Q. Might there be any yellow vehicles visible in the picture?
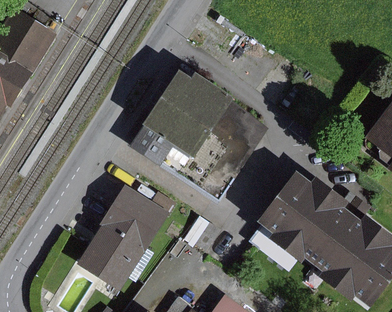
Yes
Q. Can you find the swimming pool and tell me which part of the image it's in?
bottom left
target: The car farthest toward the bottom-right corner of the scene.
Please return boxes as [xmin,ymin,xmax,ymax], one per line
[333,172,357,185]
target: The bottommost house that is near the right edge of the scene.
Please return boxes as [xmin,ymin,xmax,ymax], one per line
[258,172,392,312]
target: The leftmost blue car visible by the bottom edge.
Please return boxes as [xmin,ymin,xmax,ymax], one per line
[181,288,196,304]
